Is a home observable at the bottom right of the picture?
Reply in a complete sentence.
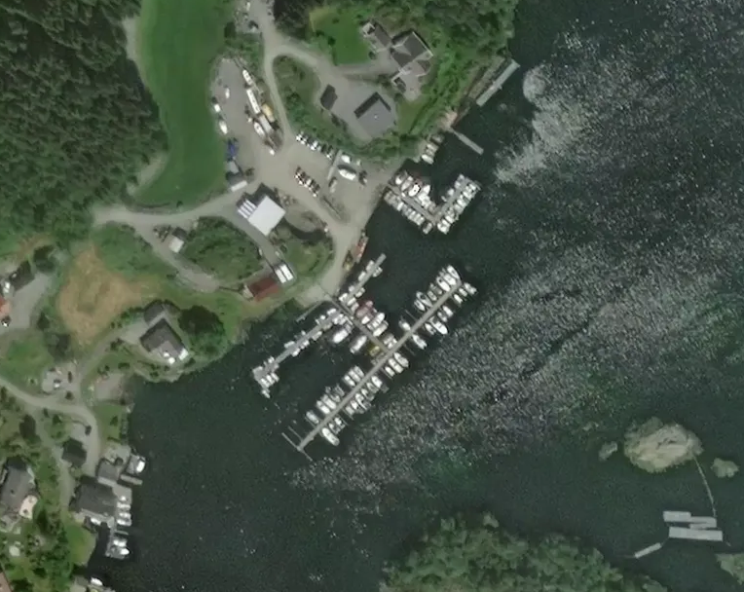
No, there is no home at the bottom right of the picture.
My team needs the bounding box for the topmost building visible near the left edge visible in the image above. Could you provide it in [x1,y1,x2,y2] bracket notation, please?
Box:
[8,262,37,290]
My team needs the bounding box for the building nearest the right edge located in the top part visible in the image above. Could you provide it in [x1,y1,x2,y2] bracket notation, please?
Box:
[388,32,437,83]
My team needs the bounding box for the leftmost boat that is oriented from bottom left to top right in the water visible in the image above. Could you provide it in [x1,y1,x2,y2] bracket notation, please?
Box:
[132,457,146,476]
